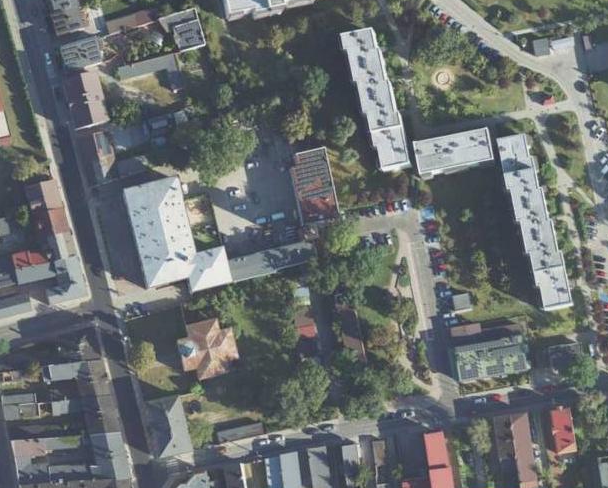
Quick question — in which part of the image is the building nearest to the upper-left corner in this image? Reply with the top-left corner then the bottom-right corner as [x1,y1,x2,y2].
[51,0,89,40]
